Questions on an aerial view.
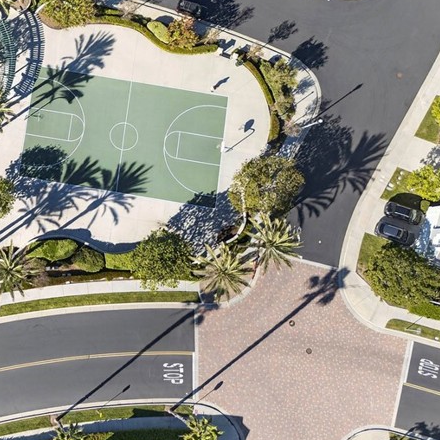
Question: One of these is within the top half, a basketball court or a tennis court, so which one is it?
basketball court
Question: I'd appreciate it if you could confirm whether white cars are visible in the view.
No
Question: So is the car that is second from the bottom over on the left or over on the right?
right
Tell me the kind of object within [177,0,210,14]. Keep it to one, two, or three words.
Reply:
car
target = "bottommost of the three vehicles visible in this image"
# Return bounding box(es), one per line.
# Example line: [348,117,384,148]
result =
[377,218,417,245]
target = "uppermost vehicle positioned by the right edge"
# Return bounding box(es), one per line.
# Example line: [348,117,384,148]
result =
[385,198,426,226]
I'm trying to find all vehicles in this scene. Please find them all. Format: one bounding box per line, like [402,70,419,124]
[385,198,426,226]
[377,218,417,245]
[177,0,210,14]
